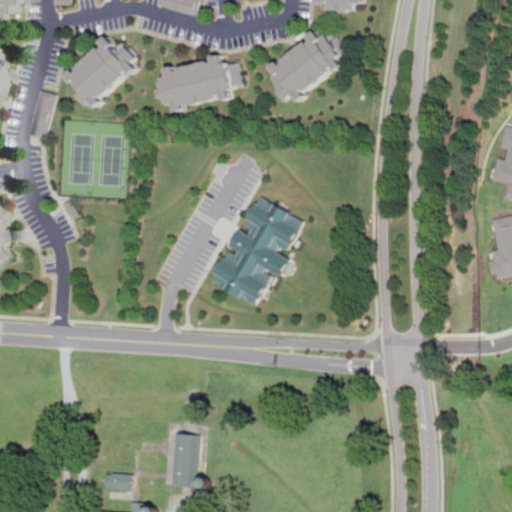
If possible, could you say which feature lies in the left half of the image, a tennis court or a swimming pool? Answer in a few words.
tennis court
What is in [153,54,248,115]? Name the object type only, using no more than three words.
building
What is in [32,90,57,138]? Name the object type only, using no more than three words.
building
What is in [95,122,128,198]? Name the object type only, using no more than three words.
tennis court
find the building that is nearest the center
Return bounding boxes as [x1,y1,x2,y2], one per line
[211,194,306,306]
